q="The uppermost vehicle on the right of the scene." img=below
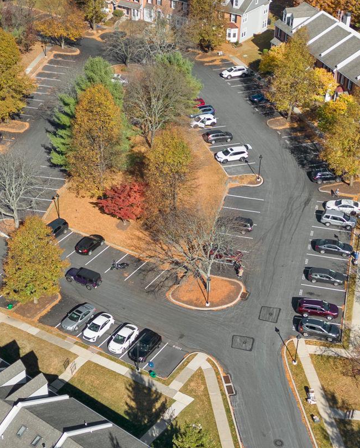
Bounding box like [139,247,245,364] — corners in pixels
[220,64,250,80]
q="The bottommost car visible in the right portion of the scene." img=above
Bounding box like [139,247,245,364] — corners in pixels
[296,314,345,341]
